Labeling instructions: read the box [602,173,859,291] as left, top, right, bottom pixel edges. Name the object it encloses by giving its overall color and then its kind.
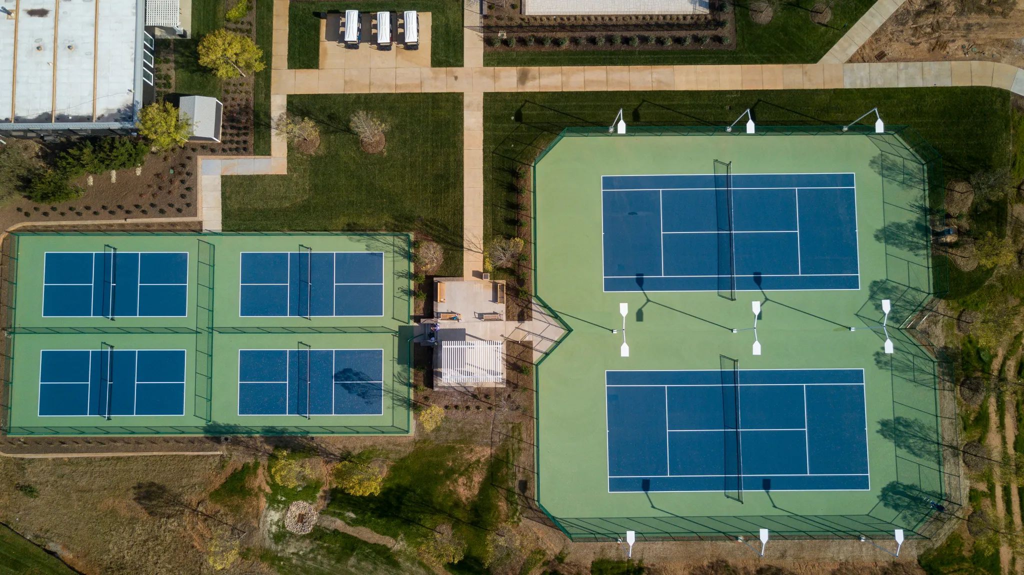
blue tennis court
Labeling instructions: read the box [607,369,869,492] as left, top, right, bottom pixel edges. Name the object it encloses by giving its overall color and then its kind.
blue tennis court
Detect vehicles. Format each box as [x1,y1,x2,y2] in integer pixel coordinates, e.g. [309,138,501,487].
[406,12,421,51]
[377,12,394,52]
[343,11,362,50]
